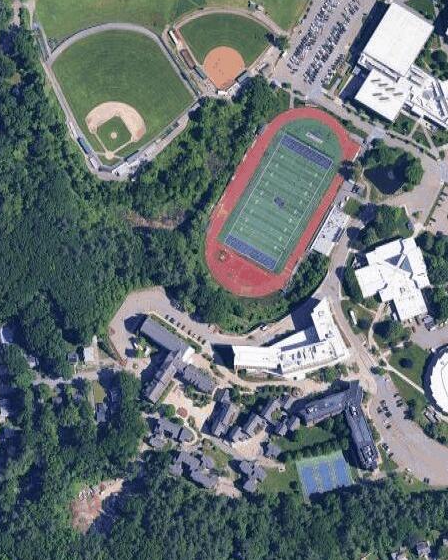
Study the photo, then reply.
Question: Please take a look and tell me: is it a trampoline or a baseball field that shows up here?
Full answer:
The image shows a baseball field.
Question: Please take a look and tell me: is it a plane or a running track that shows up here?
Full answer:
It is a running track that can be seen here.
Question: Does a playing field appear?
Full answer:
Yes, this view includes a playing field.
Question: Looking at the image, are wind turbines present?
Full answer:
No, no wind turbine can be seen from above.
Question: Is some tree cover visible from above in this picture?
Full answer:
Yes, there is tree cover in the image.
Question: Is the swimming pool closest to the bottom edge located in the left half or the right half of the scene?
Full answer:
You can find the swimming pool closest to the bottom edge on the left side of the picture.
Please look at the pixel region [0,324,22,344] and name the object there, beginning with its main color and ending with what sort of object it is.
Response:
blue swimming pool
